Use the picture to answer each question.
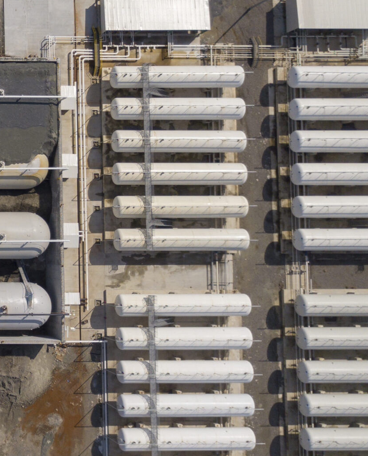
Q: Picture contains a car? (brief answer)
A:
No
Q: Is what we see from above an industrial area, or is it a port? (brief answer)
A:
industrial area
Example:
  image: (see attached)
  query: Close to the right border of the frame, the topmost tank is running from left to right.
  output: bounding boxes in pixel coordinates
[285,65,368,94]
